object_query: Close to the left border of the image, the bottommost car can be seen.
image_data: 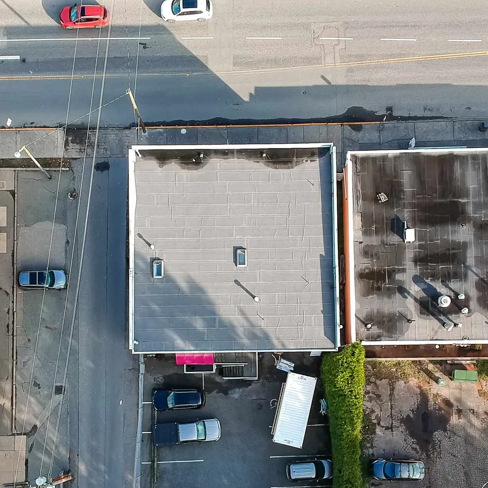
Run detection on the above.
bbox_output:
[17,266,68,292]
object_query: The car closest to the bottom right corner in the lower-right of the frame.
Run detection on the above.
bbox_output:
[371,456,425,483]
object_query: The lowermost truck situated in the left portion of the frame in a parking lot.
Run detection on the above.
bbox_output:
[154,418,222,446]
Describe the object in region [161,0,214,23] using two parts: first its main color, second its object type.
white car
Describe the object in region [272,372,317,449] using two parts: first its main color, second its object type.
white shipping container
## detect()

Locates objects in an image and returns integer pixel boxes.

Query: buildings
[129,143,343,365]
[343,147,488,349]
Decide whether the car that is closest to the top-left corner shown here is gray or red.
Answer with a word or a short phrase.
red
